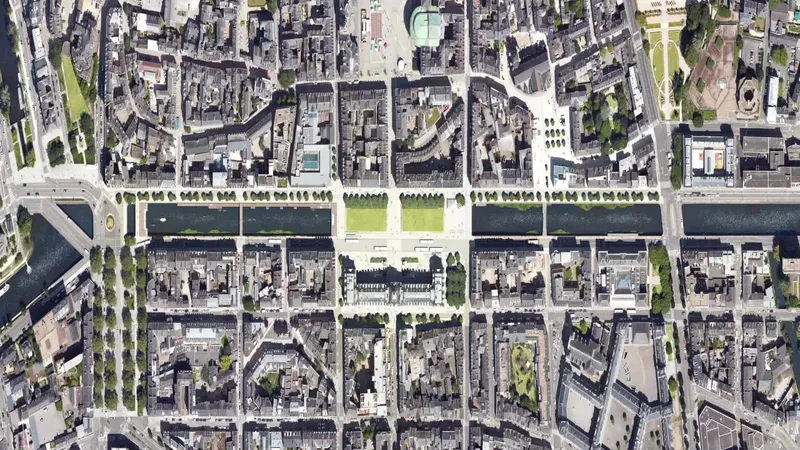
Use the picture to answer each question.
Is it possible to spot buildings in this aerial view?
Yes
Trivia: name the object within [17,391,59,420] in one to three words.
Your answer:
house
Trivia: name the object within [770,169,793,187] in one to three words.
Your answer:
building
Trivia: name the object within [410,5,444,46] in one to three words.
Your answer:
building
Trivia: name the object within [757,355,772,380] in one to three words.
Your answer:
house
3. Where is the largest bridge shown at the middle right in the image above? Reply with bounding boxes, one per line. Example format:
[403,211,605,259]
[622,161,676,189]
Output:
[661,203,684,238]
